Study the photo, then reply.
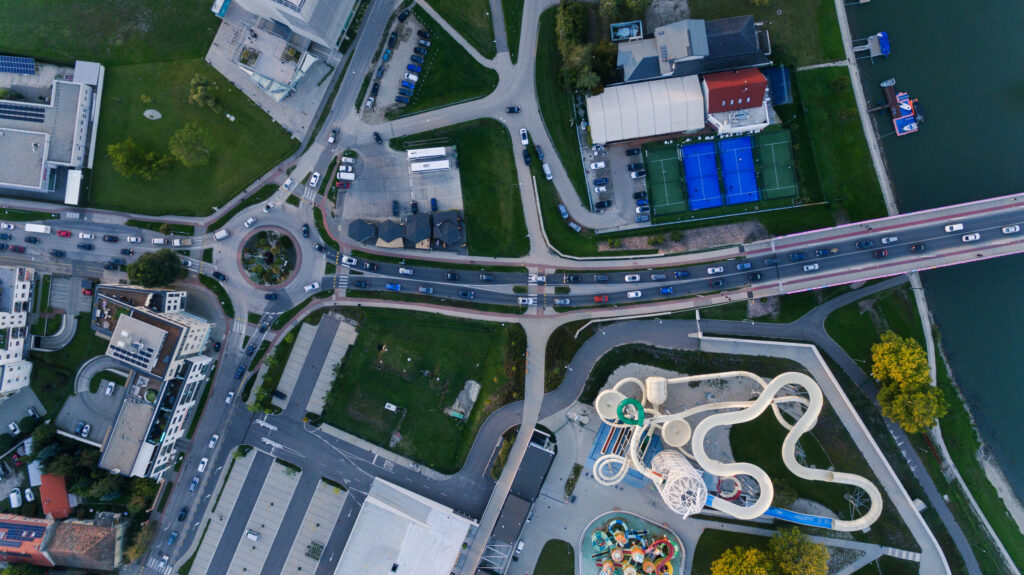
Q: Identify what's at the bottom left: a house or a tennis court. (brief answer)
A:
house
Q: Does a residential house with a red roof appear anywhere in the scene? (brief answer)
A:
Yes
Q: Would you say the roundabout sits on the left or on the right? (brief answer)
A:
left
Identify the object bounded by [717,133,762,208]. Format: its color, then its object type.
blue tennis court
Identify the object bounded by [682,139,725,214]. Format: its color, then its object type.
blue tennis court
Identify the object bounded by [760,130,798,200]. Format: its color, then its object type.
green tennis court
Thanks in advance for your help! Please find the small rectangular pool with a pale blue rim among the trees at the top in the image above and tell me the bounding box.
[610,20,643,42]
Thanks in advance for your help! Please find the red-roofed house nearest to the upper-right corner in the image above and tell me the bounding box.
[700,68,769,135]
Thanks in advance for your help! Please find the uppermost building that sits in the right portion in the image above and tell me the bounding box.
[617,15,772,84]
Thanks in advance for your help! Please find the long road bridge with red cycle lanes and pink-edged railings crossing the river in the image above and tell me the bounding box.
[772,194,1024,295]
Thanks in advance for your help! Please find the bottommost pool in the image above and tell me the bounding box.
[579,510,685,575]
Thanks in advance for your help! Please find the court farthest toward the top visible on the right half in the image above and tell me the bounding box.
[767,66,793,105]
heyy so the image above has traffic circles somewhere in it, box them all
[236,225,302,290]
